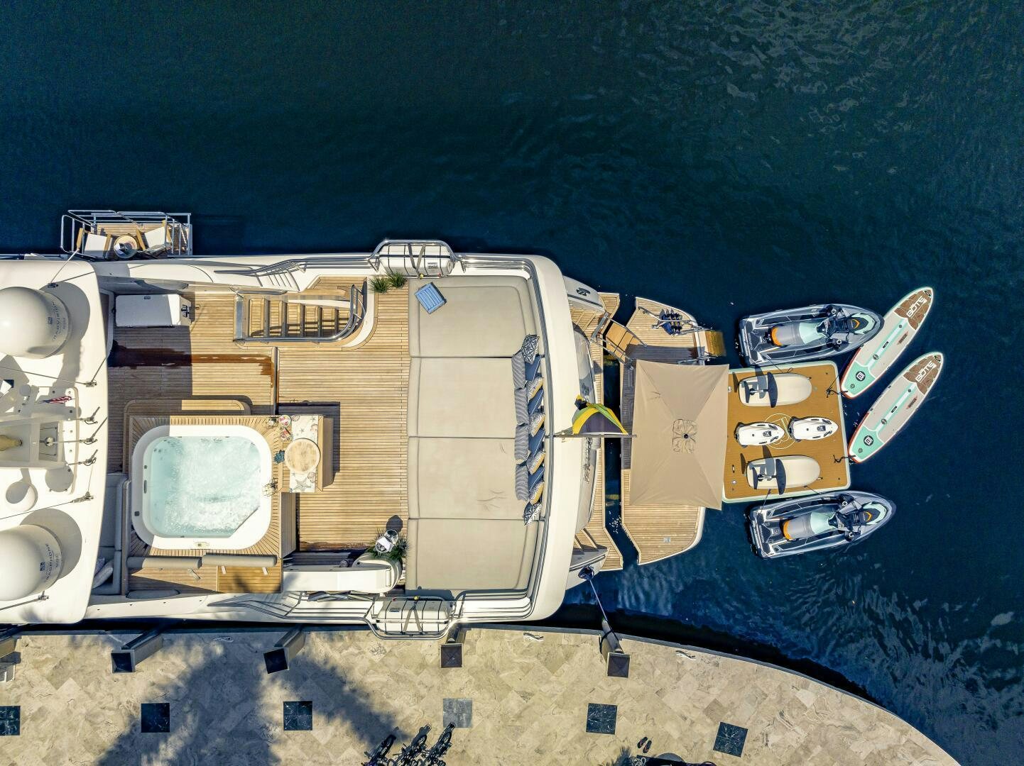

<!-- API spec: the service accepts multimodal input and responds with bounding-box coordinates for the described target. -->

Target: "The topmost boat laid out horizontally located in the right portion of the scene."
[731,306,890,368]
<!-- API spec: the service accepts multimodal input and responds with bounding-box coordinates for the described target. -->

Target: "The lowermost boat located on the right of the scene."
[742,492,900,555]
